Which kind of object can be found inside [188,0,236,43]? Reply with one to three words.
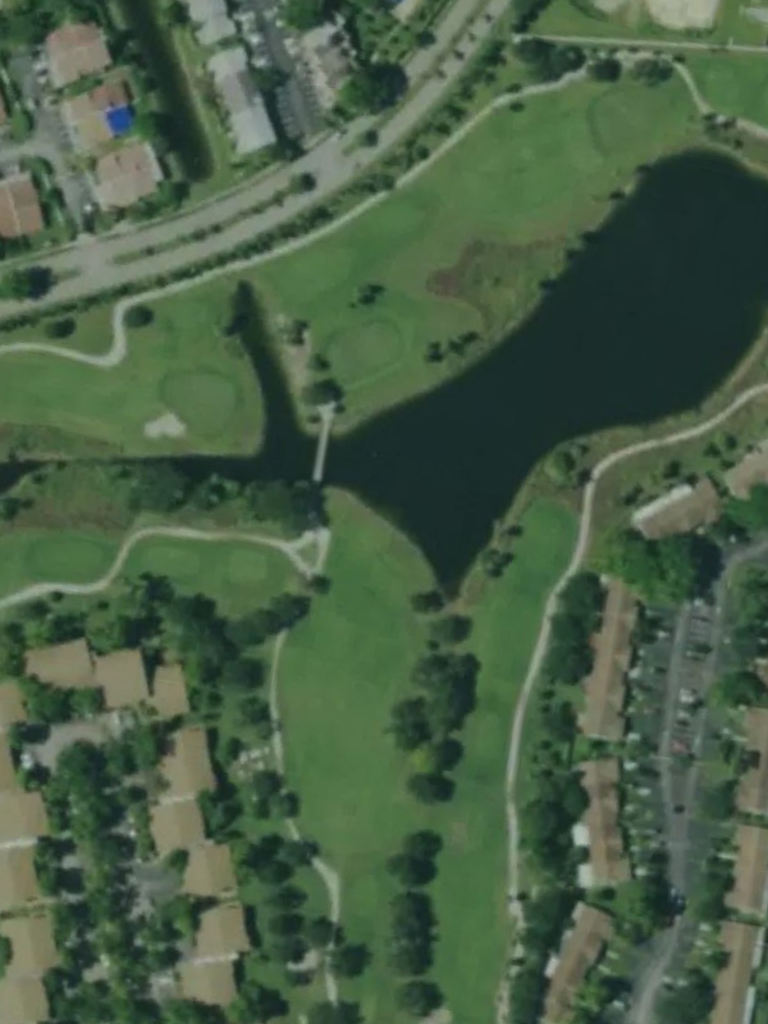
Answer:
building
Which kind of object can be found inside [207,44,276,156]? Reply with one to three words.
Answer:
building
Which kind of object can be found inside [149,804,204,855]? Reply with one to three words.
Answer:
house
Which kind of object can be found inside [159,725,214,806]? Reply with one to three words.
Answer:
house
